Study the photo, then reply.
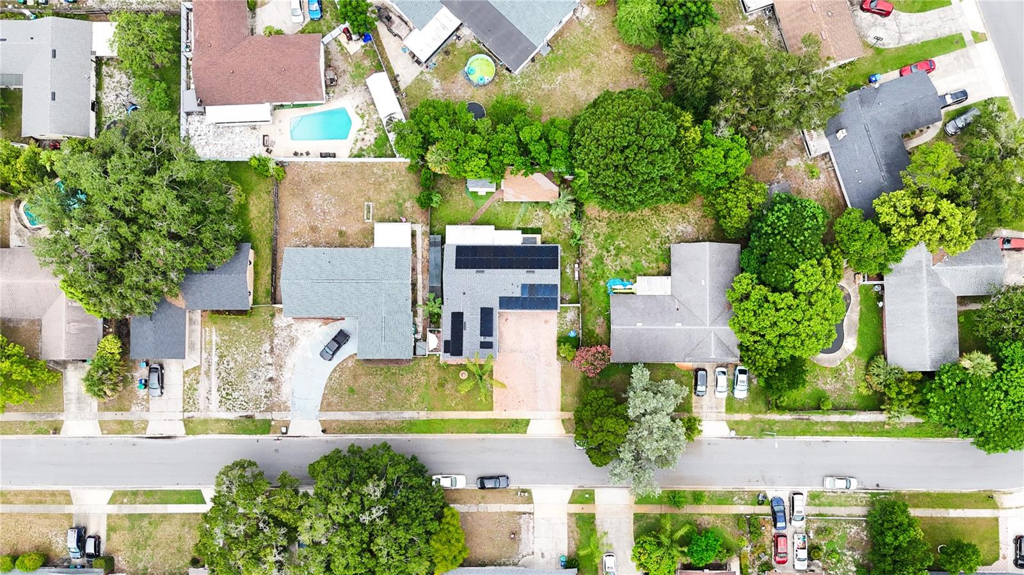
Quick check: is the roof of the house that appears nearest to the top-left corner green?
No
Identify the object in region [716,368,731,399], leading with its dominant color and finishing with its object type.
white car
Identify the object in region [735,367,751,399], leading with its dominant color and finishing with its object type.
white car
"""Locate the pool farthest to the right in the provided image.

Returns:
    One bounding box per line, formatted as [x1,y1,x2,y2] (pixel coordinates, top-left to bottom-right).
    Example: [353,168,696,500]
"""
[797,271,860,366]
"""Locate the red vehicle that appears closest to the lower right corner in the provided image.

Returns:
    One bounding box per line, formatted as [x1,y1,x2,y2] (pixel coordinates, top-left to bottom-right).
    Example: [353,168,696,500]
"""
[774,534,791,565]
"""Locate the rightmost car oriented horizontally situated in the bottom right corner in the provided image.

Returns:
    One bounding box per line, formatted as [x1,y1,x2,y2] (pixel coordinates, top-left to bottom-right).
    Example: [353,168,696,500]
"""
[825,477,859,493]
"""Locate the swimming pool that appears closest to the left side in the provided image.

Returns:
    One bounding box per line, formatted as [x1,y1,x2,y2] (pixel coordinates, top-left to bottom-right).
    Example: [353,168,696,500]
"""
[10,167,101,247]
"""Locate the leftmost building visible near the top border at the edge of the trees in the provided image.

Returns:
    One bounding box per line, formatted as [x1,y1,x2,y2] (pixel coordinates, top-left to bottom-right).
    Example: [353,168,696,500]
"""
[0,15,128,138]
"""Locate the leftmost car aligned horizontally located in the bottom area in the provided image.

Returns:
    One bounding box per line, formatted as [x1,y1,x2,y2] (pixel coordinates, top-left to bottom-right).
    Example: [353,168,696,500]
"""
[432,475,466,491]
